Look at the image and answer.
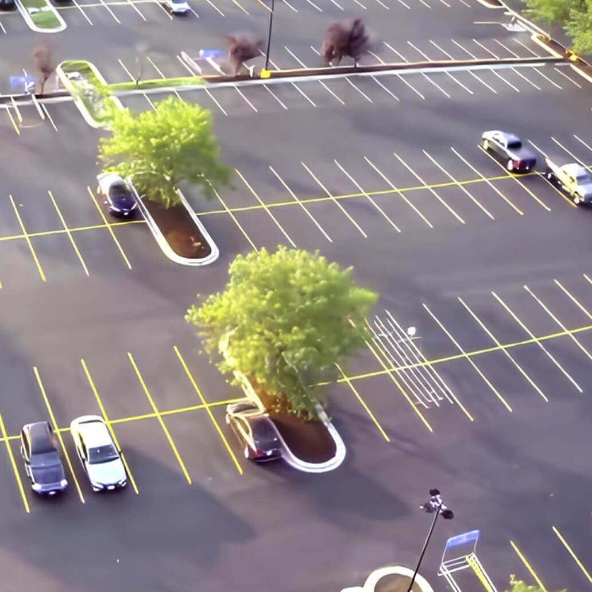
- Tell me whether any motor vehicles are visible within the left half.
Yes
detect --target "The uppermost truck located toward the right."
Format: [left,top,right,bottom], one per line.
[480,129,536,172]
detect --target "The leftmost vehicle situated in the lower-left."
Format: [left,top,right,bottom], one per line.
[16,420,66,494]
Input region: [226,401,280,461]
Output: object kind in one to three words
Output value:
car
